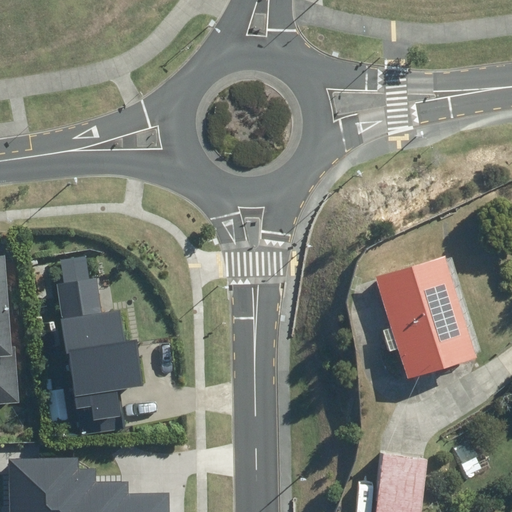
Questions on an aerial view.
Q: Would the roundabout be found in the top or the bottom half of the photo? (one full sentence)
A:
The top half of the photo is where the roundabout is.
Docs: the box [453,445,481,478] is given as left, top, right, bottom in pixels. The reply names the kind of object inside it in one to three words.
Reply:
shed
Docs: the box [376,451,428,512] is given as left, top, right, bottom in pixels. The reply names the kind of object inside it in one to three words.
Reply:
building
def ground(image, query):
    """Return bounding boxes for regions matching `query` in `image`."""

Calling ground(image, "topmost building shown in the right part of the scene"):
[376,257,477,378]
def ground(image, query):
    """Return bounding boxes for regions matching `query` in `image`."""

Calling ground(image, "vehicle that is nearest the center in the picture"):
[160,344,174,374]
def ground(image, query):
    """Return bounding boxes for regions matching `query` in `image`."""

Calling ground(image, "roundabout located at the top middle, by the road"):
[166,40,332,206]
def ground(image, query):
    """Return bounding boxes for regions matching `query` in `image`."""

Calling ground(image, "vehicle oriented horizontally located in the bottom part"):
[125,402,158,417]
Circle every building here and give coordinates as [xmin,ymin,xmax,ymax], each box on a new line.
[453,445,481,478]
[56,256,142,435]
[10,458,170,512]
[50,388,68,422]
[0,248,20,404]
[376,257,477,378]
[376,451,428,512]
